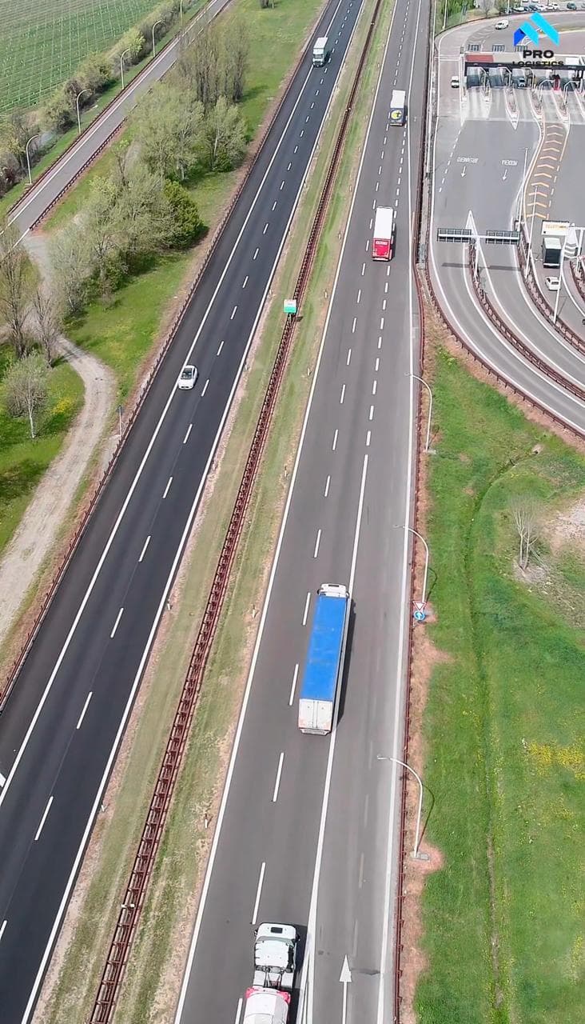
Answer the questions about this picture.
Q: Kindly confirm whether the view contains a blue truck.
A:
Yes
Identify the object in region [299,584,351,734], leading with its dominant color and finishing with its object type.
blue truck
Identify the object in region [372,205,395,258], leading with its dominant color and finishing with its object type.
white truck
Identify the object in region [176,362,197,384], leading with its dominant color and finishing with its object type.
white car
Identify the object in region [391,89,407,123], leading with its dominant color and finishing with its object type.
white vehicle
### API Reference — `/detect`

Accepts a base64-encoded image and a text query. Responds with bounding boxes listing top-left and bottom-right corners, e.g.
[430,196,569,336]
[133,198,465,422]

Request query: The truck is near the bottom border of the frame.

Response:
[241,922,300,1024]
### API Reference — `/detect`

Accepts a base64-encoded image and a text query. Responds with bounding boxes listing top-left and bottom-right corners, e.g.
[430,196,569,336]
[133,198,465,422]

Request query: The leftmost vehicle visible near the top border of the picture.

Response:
[314,35,331,65]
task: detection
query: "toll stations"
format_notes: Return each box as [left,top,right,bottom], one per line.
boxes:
[451,40,585,123]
